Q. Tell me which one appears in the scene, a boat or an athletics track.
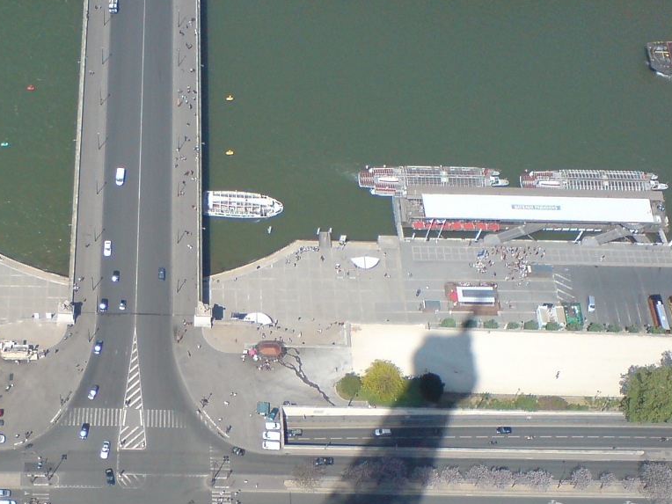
boat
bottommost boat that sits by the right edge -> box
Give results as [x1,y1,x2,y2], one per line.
[522,167,671,197]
